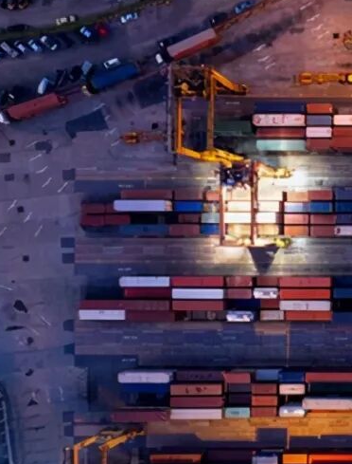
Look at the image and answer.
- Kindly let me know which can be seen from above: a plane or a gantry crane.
gantry crane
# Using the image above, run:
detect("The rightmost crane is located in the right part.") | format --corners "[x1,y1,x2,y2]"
[218,153,291,251]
